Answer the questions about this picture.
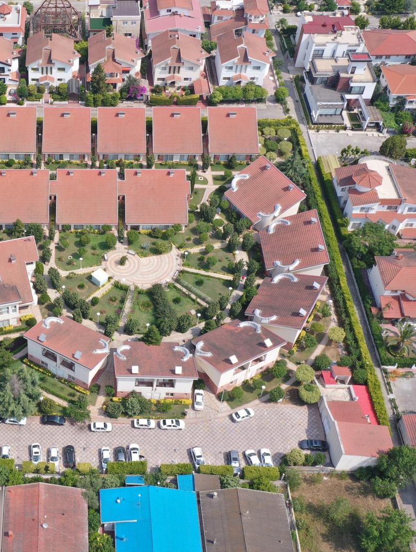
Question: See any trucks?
No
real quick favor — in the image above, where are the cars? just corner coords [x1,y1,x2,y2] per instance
[29,441,42,466]
[190,446,206,472]
[114,442,126,461]
[159,417,185,430]
[3,413,28,428]
[242,446,261,465]
[132,417,158,430]
[41,413,66,427]
[89,421,114,433]
[299,438,328,452]
[64,445,76,470]
[99,446,112,471]
[48,445,60,470]
[295,10,309,17]
[230,407,256,424]
[258,446,275,465]
[193,388,205,412]
[227,449,242,474]
[128,440,141,461]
